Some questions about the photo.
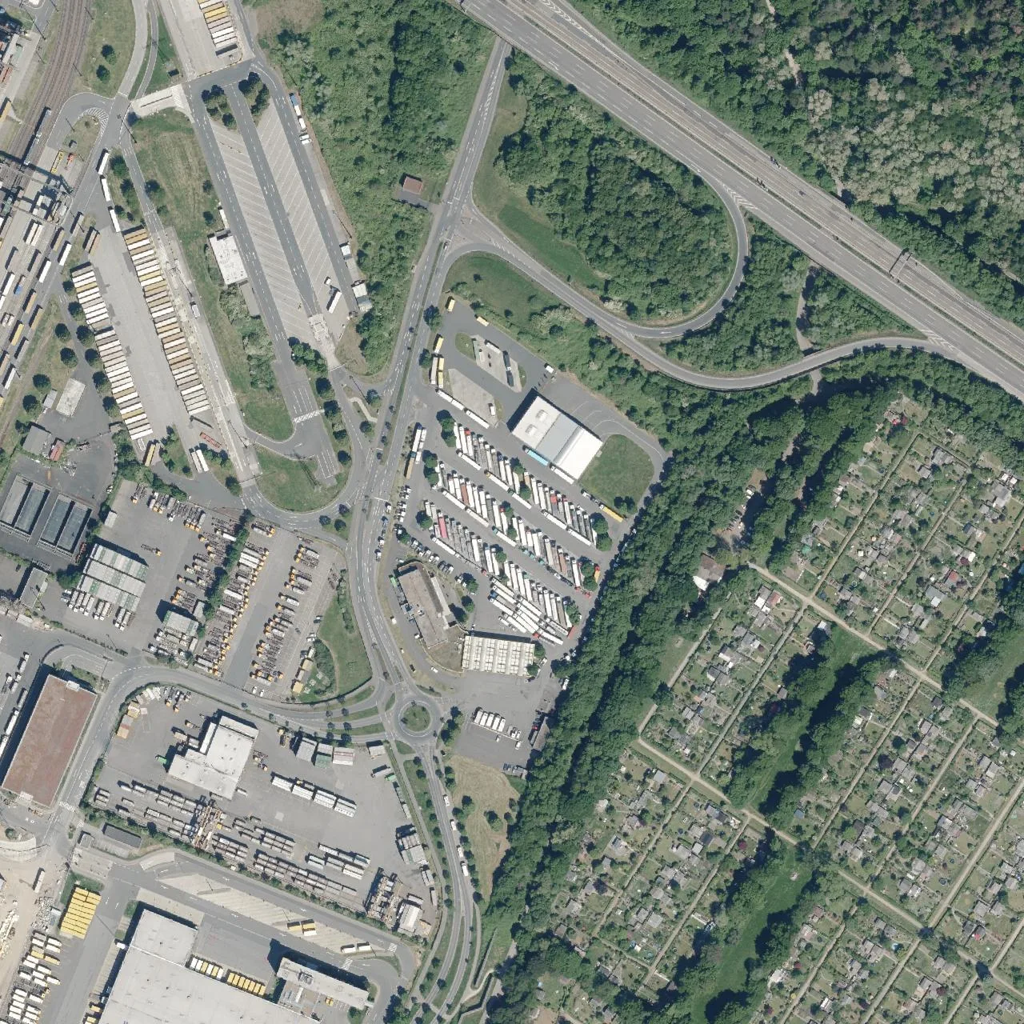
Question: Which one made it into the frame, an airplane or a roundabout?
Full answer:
The image shows a roundabout.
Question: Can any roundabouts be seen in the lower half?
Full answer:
Yes, a roundabout appears in the lower half.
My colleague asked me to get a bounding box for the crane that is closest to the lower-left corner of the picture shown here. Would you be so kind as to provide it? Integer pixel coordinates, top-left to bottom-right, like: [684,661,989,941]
[192,804,226,854]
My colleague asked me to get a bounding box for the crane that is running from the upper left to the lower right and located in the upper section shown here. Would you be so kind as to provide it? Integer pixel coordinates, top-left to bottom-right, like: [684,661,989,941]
[0,157,63,231]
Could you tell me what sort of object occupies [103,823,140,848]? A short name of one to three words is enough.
shed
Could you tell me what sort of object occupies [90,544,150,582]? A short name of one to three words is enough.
building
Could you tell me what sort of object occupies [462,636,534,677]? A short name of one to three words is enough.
building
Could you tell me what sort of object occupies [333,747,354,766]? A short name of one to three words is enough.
shed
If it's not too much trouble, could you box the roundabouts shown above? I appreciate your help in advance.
[388,696,446,746]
